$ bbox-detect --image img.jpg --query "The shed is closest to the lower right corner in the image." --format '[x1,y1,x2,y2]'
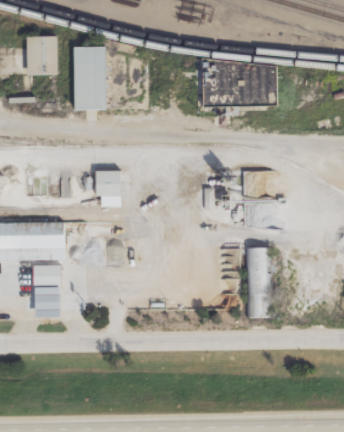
[246,248,270,318]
